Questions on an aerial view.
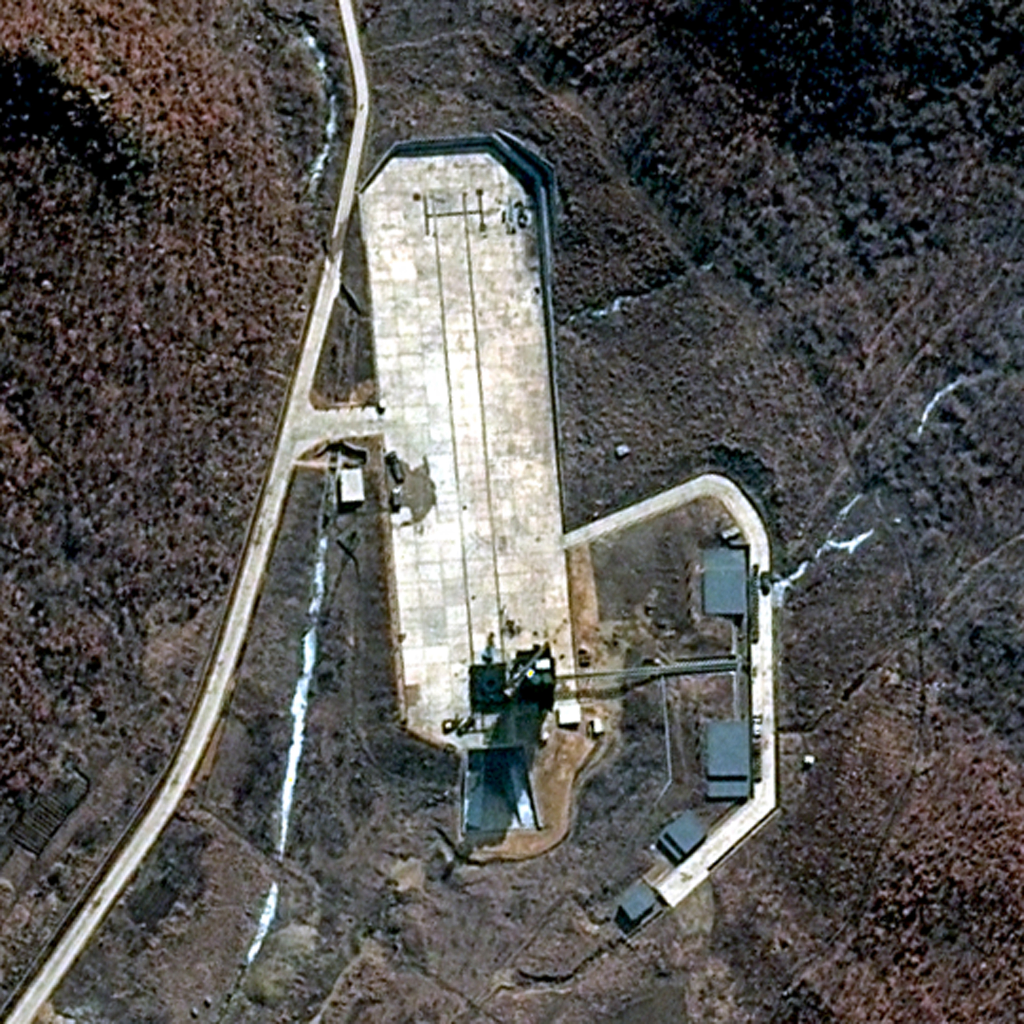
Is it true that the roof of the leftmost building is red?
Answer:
No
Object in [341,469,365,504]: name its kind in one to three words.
building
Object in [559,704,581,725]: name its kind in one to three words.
building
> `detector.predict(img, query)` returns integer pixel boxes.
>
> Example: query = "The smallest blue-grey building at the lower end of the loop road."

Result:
[620,880,655,921]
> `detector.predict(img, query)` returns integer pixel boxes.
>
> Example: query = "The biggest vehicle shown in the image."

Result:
[385,450,405,481]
